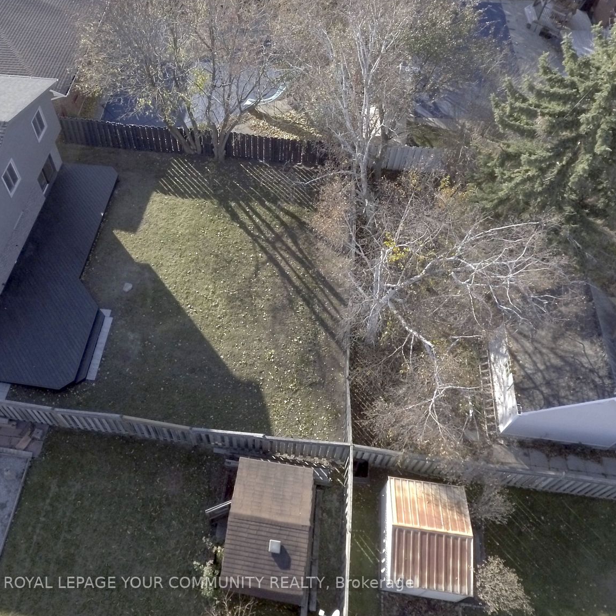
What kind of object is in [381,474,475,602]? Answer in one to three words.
shed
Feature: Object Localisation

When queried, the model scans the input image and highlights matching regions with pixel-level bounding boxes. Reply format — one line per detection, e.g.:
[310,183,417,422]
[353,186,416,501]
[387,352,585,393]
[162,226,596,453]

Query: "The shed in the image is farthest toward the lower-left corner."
[221,457,327,614]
